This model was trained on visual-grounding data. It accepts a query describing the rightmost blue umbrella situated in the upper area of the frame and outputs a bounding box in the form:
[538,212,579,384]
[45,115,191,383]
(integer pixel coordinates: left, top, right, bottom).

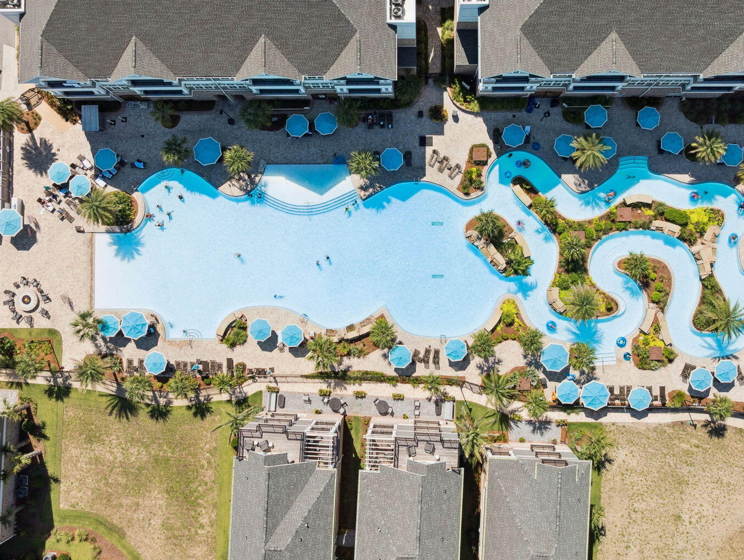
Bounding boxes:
[719,143,743,167]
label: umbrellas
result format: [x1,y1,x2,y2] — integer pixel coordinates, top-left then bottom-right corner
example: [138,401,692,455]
[192,136,222,166]
[0,208,25,238]
[580,380,610,409]
[379,149,402,171]
[314,112,337,135]
[95,149,116,171]
[280,325,304,348]
[628,386,651,409]
[120,310,149,340]
[444,338,467,362]
[502,124,525,147]
[541,343,569,372]
[48,162,71,184]
[713,359,736,382]
[68,175,91,197]
[689,366,712,389]
[143,351,167,374]
[100,314,120,337]
[286,113,310,138]
[596,138,618,161]
[719,143,743,167]
[388,344,412,369]
[660,132,684,155]
[556,380,579,403]
[636,108,658,130]
[249,317,274,341]
[584,106,607,129]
